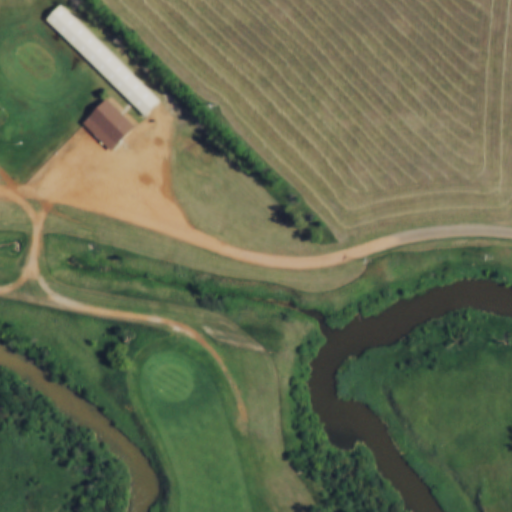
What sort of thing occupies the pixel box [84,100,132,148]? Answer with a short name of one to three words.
barn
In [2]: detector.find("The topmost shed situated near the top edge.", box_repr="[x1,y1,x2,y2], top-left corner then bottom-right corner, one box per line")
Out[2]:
[46,4,160,116]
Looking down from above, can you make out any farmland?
Yes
